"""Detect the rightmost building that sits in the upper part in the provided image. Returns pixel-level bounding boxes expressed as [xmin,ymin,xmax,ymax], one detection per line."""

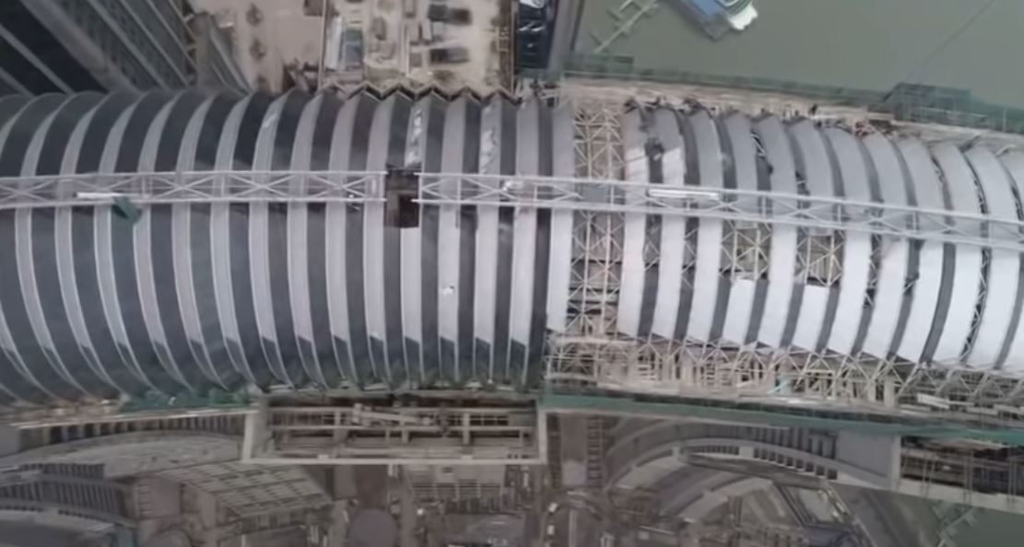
[517,0,553,80]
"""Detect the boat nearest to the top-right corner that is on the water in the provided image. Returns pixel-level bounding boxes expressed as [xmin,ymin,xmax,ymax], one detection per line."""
[707,0,751,30]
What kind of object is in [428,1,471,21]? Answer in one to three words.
vehicle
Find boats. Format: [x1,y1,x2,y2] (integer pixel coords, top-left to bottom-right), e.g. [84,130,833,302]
[661,0,729,43]
[707,0,751,30]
